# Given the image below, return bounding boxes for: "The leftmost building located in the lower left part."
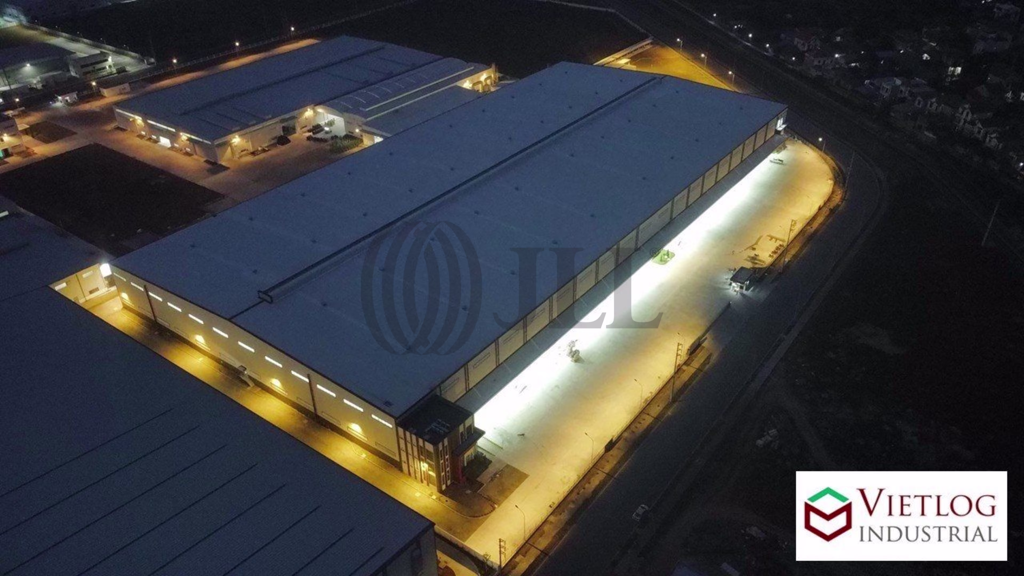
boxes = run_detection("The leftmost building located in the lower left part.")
[0,281,440,576]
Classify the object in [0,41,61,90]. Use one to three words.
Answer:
building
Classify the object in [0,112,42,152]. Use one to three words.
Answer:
building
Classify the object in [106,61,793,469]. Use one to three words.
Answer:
warehouse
